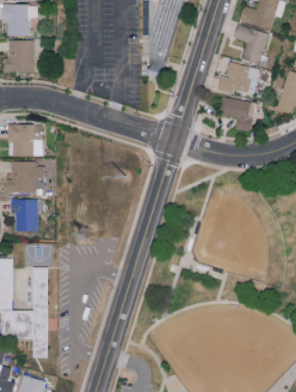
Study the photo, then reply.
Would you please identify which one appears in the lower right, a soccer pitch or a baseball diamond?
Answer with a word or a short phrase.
baseball diamond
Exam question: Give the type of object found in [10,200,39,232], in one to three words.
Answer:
house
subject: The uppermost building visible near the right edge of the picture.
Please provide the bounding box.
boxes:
[240,0,286,32]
